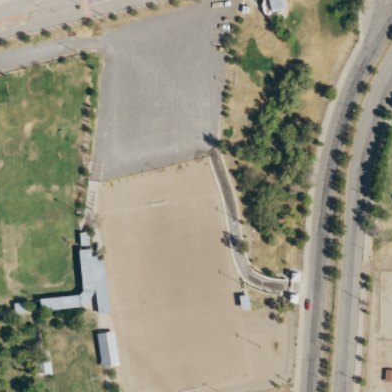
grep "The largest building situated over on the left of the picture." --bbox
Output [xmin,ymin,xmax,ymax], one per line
[40,248,111,313]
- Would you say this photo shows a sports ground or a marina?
sports ground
